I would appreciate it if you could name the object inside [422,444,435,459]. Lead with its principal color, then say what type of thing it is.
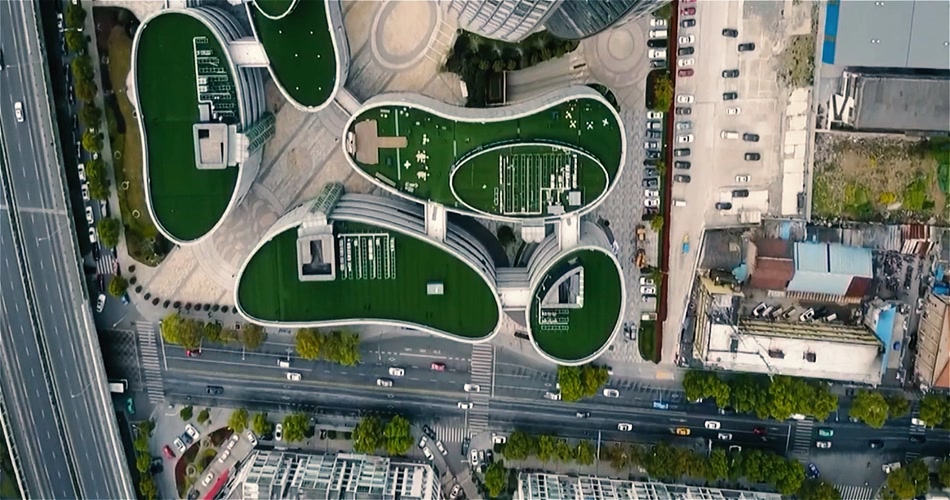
white vehicle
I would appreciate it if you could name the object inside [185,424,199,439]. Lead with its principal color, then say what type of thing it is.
white car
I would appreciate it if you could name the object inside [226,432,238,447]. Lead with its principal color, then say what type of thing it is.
white vehicle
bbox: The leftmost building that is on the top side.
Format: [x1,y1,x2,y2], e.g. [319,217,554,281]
[132,8,282,246]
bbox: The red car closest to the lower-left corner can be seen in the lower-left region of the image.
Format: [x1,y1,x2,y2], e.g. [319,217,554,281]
[161,444,175,458]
